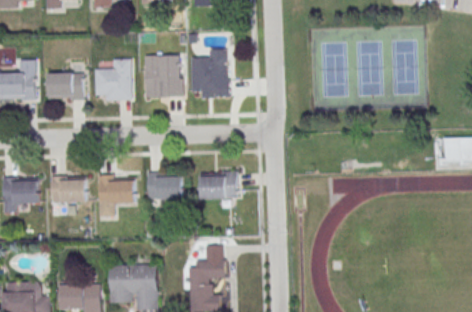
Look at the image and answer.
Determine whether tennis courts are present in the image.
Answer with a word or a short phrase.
Yes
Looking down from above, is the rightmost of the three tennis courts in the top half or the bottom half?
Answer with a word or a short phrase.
top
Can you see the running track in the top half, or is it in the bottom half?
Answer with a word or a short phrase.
bottom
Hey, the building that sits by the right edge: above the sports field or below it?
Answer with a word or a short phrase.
above it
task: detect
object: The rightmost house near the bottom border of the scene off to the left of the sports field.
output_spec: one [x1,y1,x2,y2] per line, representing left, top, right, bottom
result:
[190,244,227,312]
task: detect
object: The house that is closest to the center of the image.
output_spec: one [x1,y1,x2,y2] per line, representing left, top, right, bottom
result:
[197,172,240,200]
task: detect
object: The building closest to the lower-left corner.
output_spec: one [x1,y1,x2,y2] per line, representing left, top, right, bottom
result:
[2,282,52,312]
